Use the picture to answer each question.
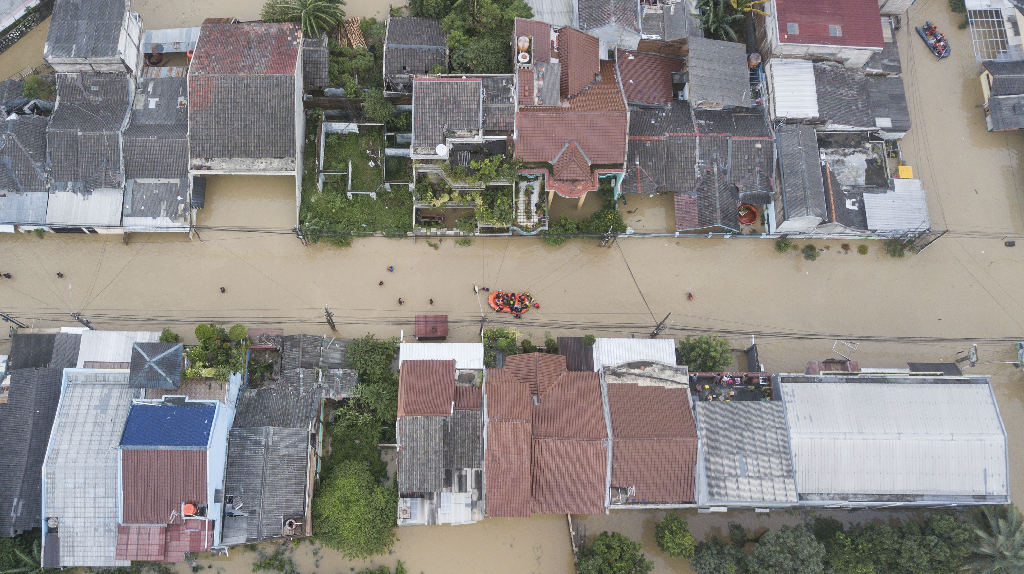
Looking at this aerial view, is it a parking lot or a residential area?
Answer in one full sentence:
This image shows a residential area.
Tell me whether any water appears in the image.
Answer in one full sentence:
Yes, there is water in the image.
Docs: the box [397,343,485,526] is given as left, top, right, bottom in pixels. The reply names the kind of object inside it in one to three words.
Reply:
house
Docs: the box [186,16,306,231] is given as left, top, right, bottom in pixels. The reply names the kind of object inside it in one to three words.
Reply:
house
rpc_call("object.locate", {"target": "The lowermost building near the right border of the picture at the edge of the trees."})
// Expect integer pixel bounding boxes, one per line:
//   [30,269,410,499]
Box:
[770,371,1011,510]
